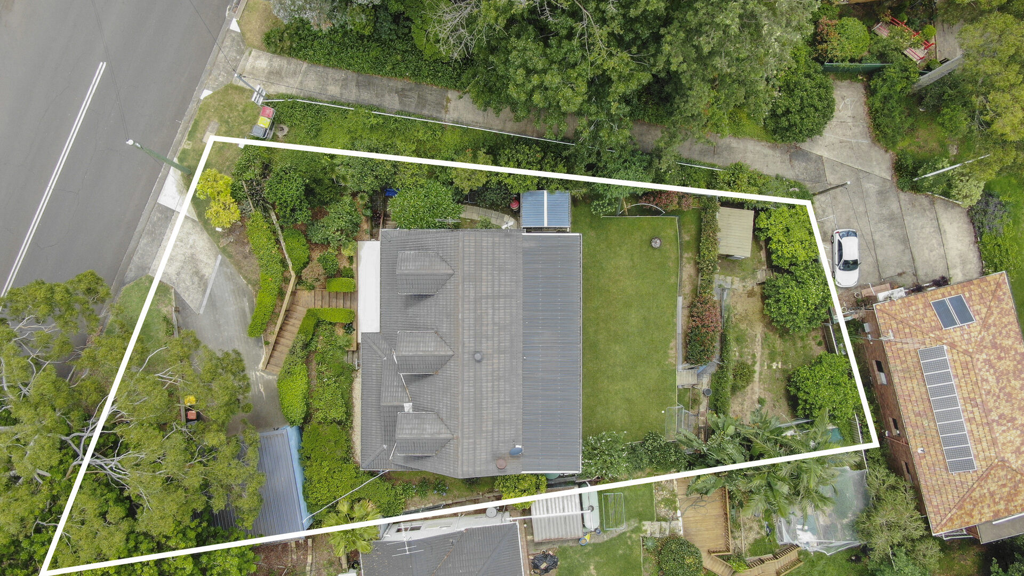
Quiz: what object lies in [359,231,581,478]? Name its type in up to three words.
house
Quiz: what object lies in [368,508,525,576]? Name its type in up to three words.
house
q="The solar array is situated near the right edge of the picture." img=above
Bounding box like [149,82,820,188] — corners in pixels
[918,343,976,476]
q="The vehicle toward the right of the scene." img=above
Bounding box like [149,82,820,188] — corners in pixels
[827,227,863,290]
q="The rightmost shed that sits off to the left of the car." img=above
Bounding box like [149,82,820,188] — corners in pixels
[715,206,754,261]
